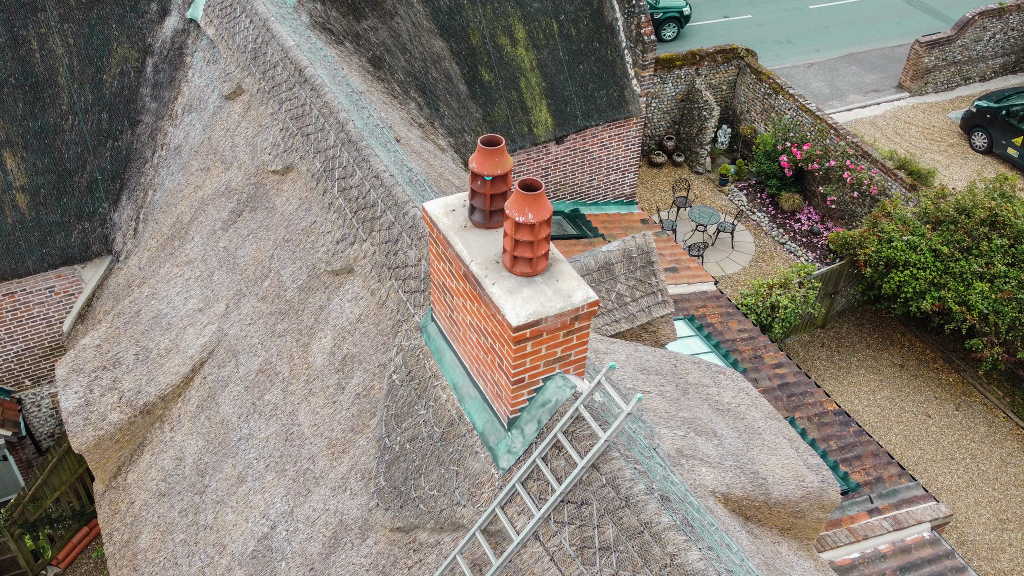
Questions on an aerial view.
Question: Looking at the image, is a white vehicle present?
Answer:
No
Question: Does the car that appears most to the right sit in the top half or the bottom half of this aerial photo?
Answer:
top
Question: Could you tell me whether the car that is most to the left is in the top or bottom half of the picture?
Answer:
top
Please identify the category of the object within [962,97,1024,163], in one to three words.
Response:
car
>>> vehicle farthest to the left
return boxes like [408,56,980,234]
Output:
[641,0,689,44]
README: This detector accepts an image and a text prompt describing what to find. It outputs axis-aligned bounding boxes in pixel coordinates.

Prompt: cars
[962,97,1024,163]
[641,0,689,44]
